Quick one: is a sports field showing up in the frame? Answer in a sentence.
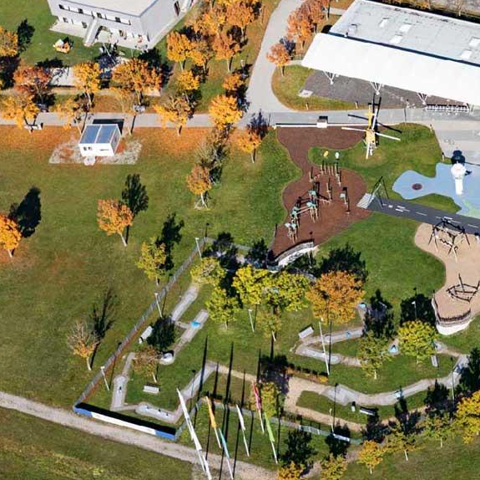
No, there isn't any sports field down there.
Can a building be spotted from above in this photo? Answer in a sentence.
Yes, the photo shows a building.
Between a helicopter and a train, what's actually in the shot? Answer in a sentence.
This aerial view contains a helicopter.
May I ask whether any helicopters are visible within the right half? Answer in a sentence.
Yes, a helicopter can be seen within the right half.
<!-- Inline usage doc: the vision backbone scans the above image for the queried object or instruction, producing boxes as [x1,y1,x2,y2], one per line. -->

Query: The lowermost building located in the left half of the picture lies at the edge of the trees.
[79,125,121,157]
